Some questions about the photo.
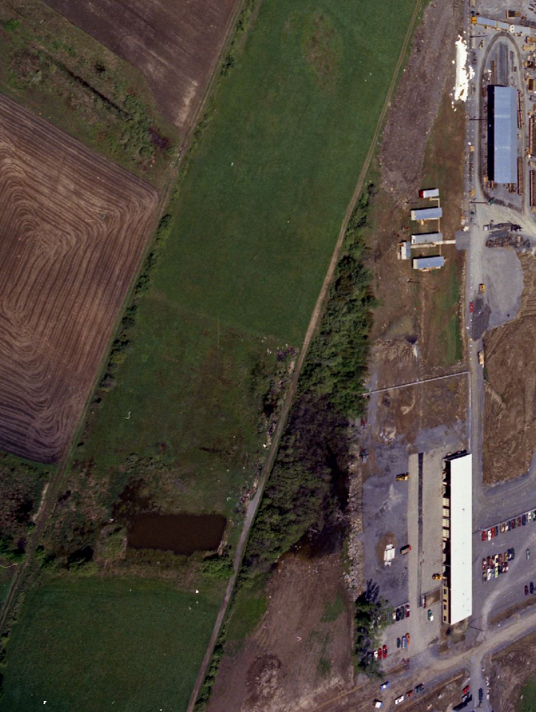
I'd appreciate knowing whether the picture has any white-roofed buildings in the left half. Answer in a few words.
No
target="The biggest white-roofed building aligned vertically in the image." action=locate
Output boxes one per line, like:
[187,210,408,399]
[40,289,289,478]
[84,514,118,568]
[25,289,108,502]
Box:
[442,452,471,625]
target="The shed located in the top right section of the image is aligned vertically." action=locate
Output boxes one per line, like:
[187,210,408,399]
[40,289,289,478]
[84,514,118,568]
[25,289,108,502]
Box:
[488,86,516,184]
